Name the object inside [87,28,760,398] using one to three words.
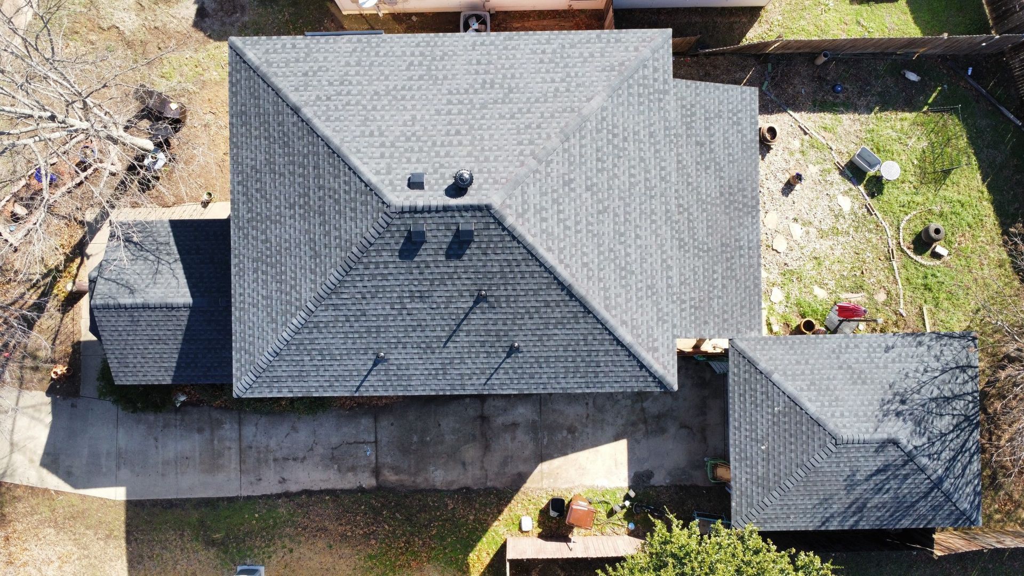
house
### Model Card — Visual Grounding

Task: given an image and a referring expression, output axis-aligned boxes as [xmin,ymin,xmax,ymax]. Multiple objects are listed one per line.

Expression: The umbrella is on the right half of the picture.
[825,301,884,337]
